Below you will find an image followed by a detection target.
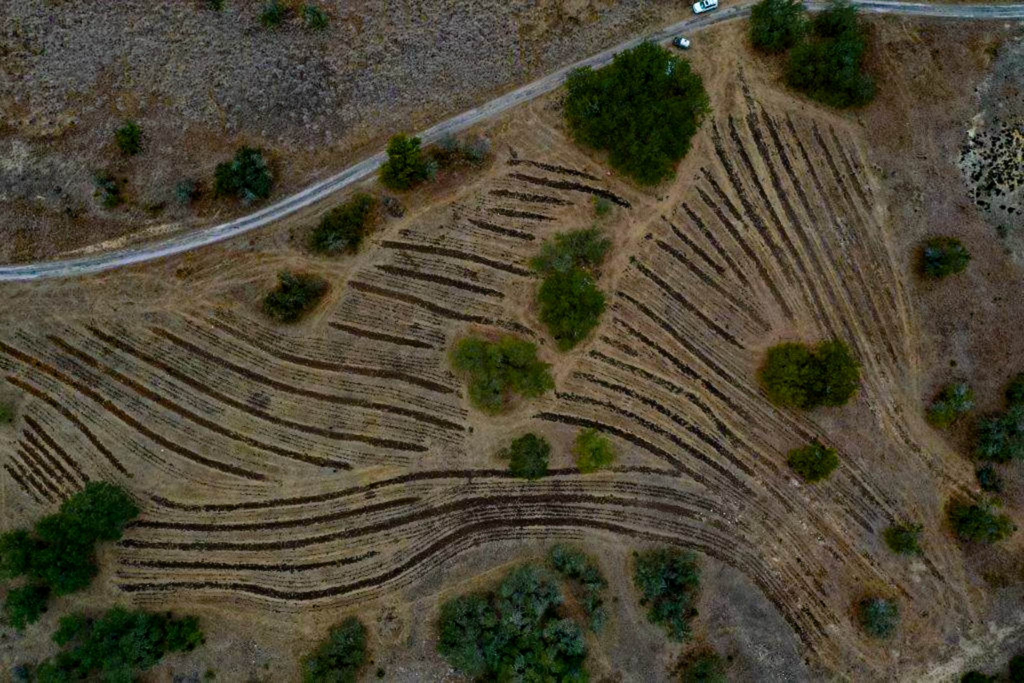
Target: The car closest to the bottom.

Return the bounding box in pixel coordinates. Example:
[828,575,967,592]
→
[670,38,691,53]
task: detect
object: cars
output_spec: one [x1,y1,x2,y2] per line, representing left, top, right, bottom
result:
[692,0,721,15]
[670,38,691,53]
